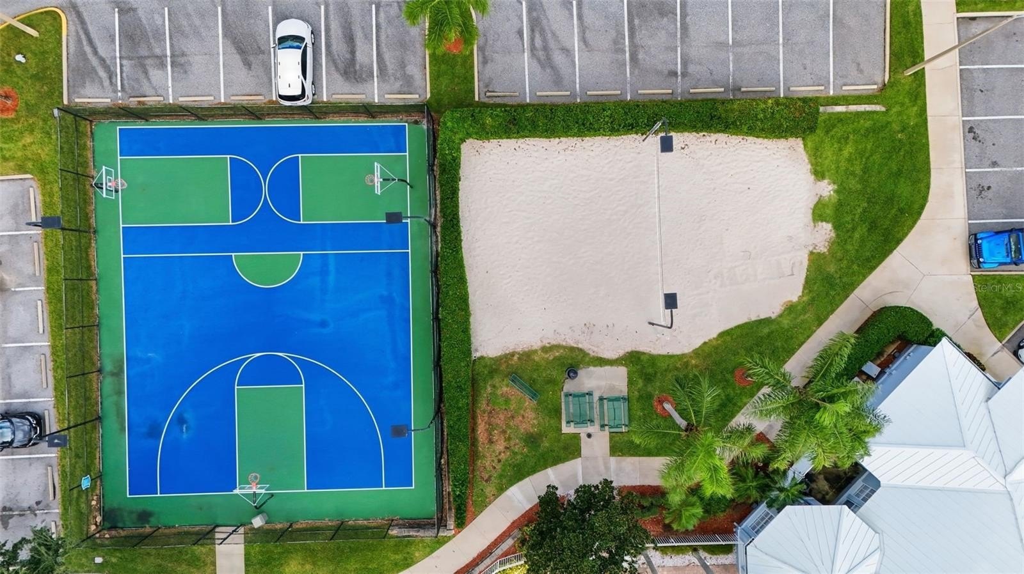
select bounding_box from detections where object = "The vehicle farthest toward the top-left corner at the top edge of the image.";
[267,19,314,105]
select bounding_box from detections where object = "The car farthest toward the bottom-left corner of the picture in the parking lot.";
[0,410,45,456]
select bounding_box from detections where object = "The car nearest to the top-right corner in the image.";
[967,227,1024,270]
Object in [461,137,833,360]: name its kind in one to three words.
sports court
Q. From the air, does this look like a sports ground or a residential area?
sports ground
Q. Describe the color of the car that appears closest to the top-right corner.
blue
